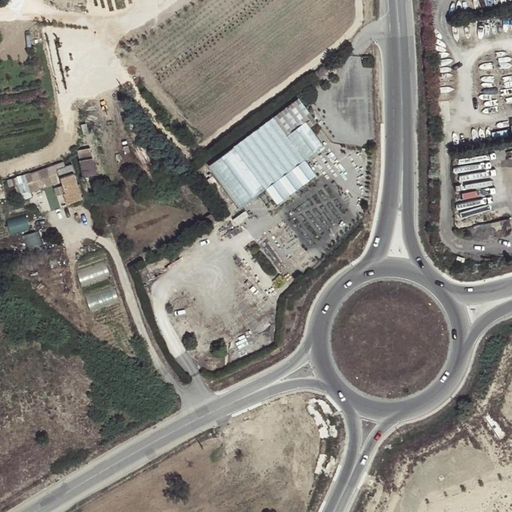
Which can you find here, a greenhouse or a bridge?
greenhouse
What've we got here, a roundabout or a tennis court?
roundabout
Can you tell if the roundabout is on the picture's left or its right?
right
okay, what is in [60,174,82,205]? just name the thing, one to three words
house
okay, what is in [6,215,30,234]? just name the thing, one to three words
shed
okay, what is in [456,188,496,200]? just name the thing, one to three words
vehicle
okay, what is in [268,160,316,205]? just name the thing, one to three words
greenhouse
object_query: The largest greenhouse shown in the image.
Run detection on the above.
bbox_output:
[208,118,304,208]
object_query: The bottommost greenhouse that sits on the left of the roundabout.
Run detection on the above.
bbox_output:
[86,285,118,310]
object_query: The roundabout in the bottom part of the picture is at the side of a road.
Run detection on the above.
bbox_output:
[308,257,473,422]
